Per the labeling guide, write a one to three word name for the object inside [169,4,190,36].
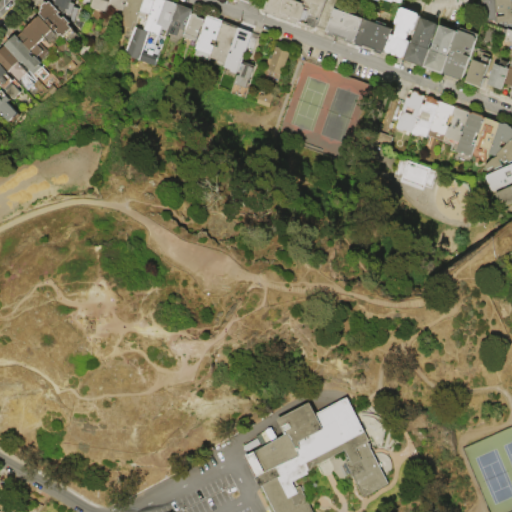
house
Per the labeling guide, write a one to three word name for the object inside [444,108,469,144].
house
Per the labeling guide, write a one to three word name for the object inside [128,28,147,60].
shed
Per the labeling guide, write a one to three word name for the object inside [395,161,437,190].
building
